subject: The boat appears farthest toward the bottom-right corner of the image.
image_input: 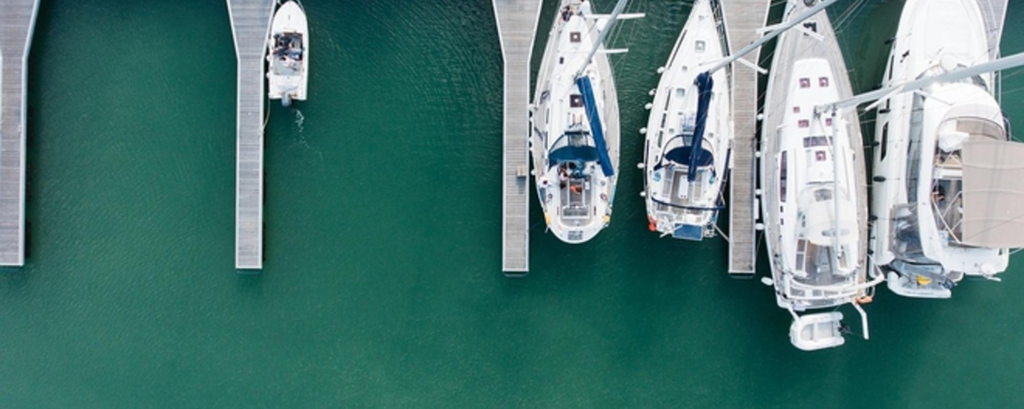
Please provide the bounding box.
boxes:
[886,263,957,297]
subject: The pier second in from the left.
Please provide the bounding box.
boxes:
[227,0,277,273]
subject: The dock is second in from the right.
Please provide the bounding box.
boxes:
[719,0,771,277]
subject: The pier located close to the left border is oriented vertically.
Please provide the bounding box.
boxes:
[0,0,40,270]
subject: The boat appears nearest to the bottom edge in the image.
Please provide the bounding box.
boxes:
[791,313,848,350]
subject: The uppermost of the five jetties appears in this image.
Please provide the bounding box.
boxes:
[981,0,1011,109]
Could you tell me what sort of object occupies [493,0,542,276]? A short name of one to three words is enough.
pier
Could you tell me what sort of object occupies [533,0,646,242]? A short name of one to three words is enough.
boat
